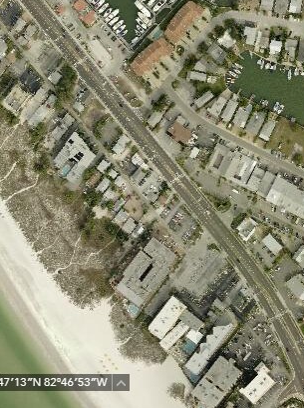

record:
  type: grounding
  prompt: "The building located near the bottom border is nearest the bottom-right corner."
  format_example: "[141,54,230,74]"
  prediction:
[240,364,275,407]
